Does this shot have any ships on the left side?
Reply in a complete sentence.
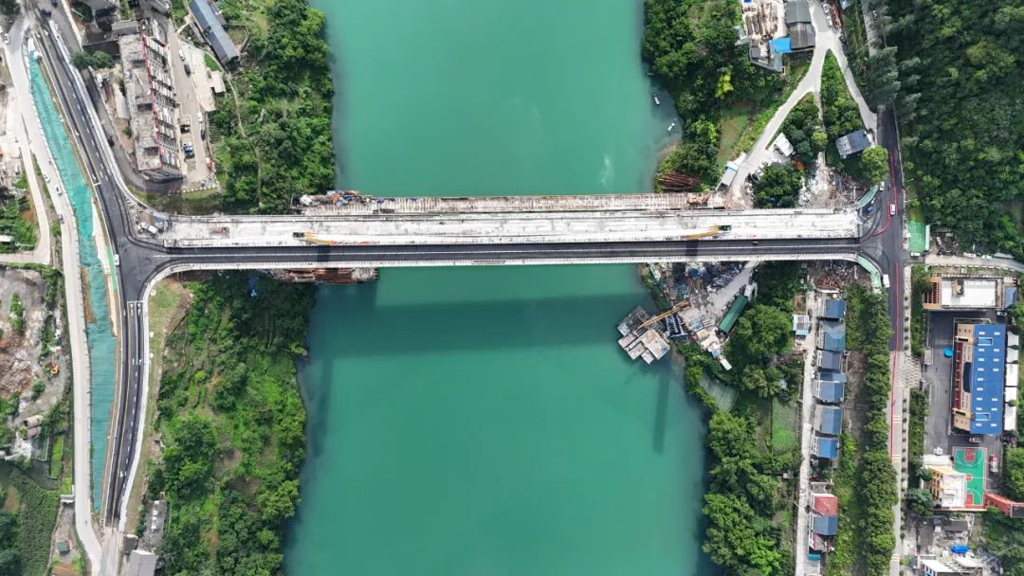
No, no ship can be made out on the left side.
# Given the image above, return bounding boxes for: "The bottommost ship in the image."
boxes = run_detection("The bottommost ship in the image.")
[617,305,670,364]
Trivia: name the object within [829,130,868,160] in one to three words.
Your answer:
house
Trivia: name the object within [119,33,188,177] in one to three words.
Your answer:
building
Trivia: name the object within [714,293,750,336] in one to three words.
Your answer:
shed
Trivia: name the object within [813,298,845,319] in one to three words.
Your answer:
house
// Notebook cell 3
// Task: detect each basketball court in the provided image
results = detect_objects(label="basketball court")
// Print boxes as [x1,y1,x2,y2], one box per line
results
[953,447,987,511]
